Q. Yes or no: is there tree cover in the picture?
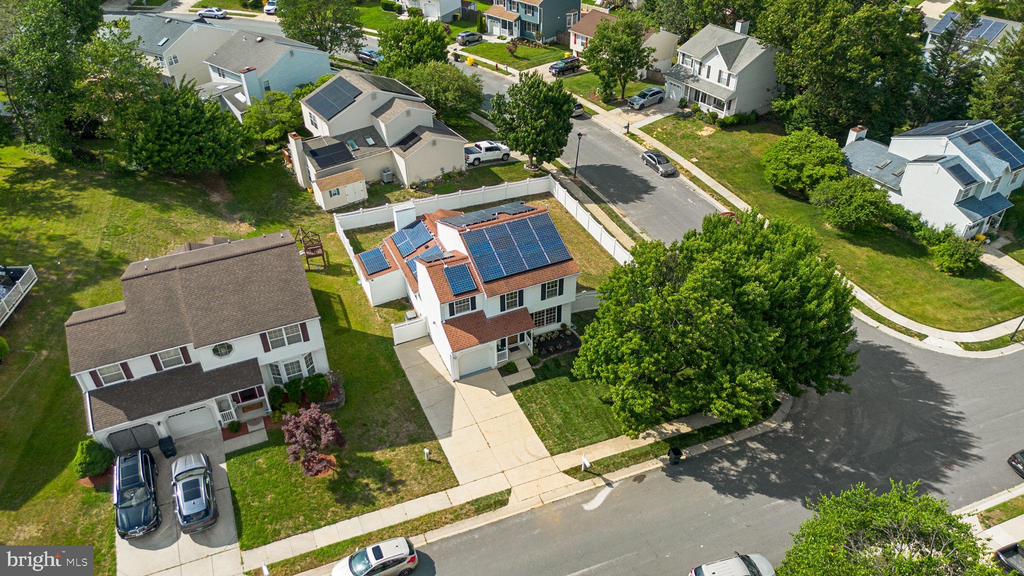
Yes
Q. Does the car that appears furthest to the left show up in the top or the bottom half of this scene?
bottom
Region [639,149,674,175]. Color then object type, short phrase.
gray car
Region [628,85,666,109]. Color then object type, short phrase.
gray car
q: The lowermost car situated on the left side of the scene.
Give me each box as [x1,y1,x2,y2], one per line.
[332,537,420,576]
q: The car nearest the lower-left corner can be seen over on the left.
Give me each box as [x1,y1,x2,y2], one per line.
[111,453,160,538]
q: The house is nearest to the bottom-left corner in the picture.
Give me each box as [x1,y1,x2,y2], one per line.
[66,227,328,459]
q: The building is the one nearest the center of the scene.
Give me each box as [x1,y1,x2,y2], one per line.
[353,202,582,382]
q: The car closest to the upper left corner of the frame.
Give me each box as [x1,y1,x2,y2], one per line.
[196,8,229,20]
